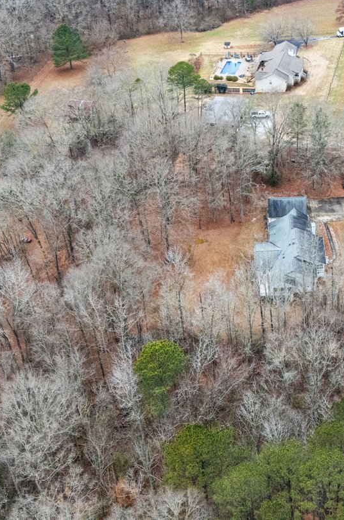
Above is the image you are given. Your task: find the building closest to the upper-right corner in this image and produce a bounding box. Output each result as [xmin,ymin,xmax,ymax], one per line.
[255,38,315,90]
